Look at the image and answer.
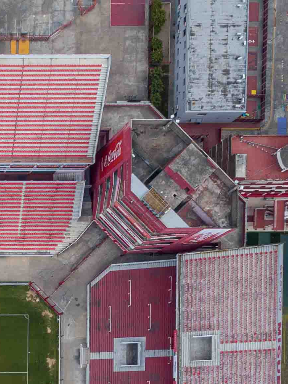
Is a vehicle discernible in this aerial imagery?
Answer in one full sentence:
No, there isn't any vehicle down there.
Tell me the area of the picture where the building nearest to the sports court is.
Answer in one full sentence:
You can find the building nearest to the sports court in the top right area of the picture.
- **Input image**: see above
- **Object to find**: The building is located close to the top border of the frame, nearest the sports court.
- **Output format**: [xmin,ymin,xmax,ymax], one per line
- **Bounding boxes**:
[174,0,247,121]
